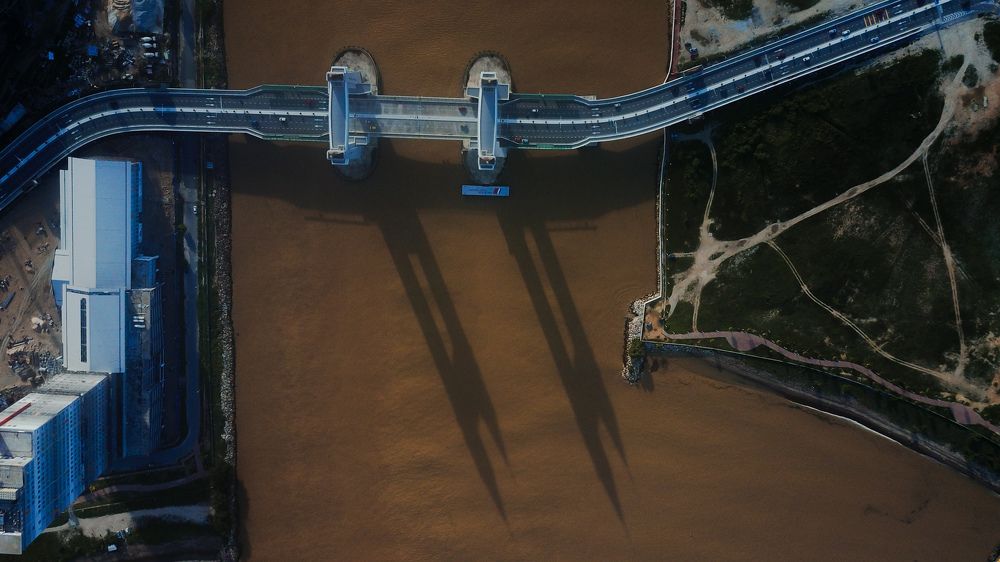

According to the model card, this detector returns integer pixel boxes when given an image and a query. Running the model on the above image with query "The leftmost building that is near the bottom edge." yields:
[0,364,115,554]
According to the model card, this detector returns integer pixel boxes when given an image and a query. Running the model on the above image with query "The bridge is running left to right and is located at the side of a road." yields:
[0,0,967,211]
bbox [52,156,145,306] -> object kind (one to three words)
building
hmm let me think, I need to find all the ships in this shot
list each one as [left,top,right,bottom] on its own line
[462,184,509,196]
